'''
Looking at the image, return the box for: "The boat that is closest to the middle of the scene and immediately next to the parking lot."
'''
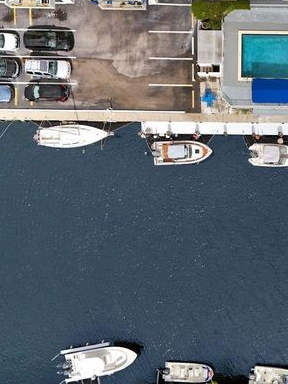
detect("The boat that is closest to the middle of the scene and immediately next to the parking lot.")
[150,139,212,166]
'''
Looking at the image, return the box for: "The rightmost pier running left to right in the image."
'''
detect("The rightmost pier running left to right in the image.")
[254,124,282,136]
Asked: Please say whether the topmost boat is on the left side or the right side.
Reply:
left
